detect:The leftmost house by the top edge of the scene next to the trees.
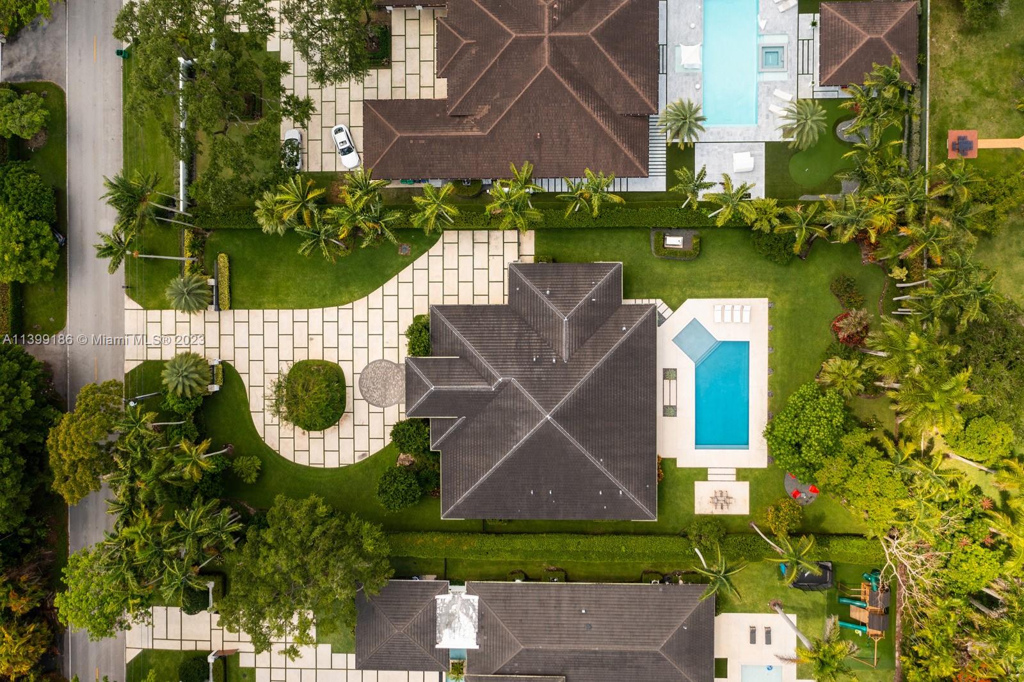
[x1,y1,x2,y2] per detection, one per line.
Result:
[362,0,660,183]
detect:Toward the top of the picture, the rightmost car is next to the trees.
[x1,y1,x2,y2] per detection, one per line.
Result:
[329,122,362,171]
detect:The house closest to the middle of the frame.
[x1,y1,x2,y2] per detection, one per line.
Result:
[405,261,659,521]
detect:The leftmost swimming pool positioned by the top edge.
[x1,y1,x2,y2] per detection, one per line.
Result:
[703,0,758,125]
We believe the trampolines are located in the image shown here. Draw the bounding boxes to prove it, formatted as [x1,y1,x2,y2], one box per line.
[790,562,842,597]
